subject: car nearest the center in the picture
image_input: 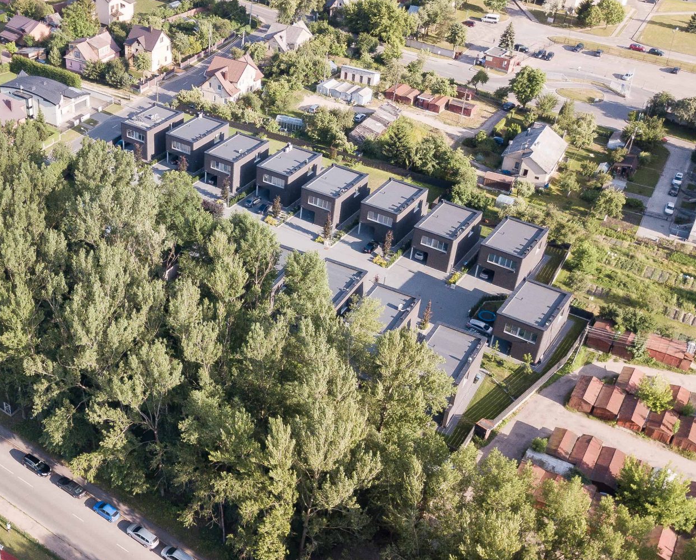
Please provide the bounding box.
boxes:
[363,240,382,254]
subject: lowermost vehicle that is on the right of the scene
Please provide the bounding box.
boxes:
[465,317,492,337]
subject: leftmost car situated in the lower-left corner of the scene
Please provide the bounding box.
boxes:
[21,452,53,478]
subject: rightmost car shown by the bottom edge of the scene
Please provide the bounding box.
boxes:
[161,543,198,560]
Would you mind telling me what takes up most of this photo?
trees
